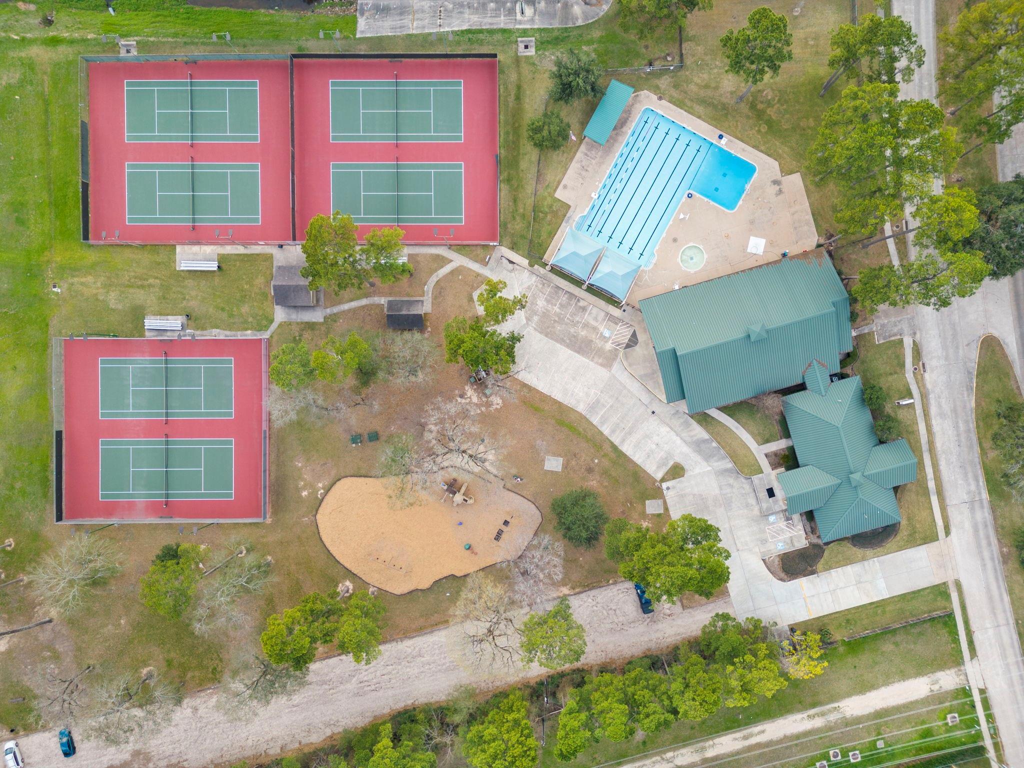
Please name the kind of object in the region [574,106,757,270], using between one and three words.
swimming pool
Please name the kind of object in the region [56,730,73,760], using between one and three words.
car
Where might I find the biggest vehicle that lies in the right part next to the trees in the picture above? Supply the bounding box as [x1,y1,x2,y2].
[636,582,655,616]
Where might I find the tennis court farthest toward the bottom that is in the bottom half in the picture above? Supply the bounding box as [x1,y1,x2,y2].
[65,428,268,519]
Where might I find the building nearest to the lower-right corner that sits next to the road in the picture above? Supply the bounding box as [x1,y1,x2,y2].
[772,354,918,543]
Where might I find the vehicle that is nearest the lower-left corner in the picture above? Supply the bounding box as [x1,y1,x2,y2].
[4,739,24,768]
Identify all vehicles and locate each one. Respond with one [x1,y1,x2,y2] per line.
[636,582,655,616]
[56,730,73,760]
[4,739,24,768]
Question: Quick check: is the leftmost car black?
No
